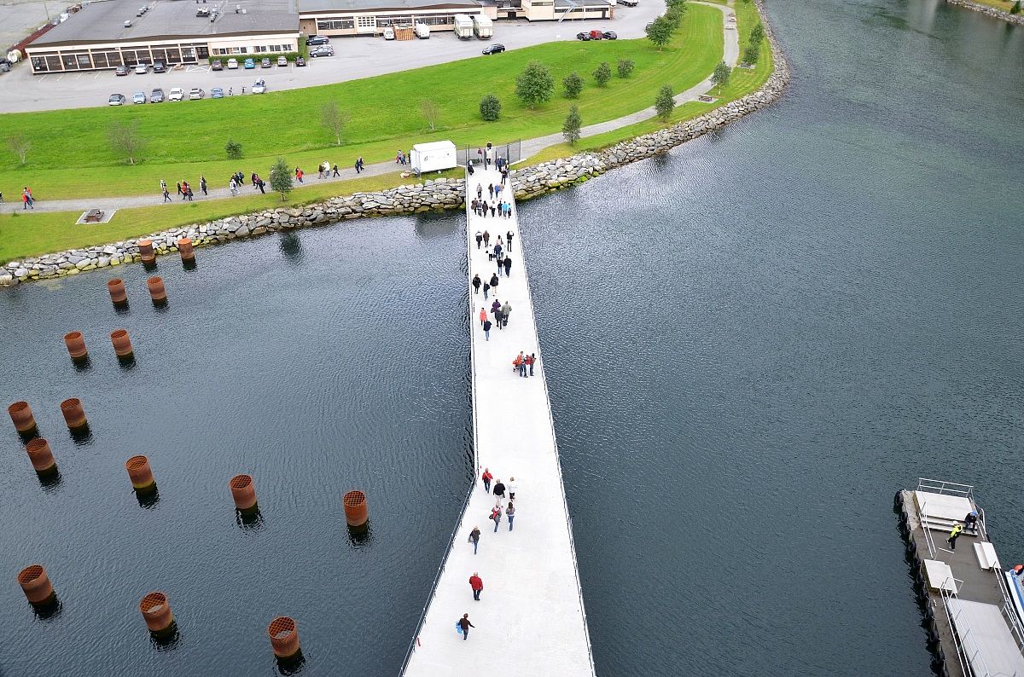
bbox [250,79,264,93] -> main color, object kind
white car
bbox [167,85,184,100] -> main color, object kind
white car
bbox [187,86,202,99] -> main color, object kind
white vehicle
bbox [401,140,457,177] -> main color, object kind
white trailer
